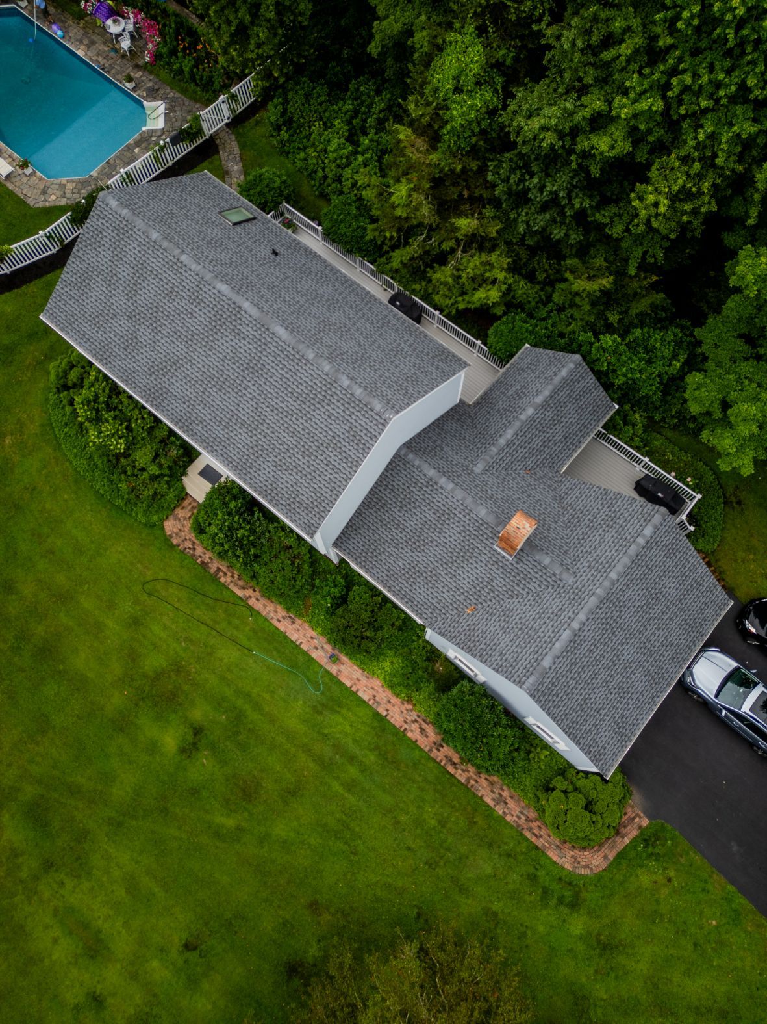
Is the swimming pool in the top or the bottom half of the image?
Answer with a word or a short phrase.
top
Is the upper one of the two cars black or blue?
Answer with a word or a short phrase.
black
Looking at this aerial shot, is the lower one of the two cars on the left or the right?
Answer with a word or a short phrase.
right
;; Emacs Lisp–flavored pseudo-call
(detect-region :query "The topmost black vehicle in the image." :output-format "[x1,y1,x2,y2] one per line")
[736,587,767,650]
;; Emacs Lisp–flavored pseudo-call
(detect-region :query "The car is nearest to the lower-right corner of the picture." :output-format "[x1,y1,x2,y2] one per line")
[683,643,767,761]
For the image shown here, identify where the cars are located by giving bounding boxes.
[736,587,767,650]
[683,643,767,761]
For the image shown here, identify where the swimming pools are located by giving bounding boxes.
[0,5,172,179]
